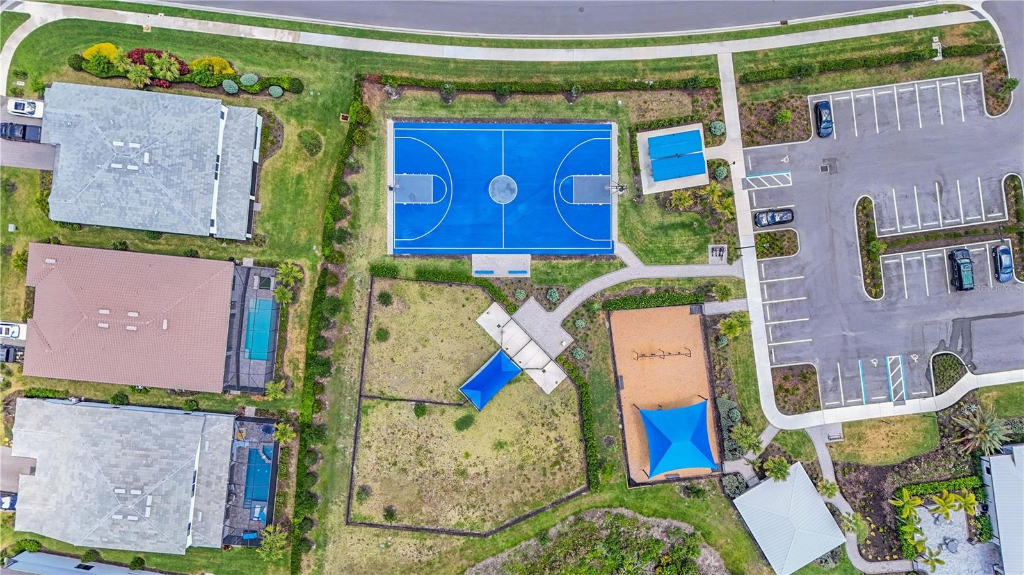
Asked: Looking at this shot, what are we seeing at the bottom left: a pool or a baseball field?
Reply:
pool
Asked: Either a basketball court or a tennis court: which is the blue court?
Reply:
basketball court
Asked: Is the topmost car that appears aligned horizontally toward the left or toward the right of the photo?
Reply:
left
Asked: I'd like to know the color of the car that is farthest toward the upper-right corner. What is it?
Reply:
blue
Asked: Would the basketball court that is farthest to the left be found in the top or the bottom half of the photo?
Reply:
top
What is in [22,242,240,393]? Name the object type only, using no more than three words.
house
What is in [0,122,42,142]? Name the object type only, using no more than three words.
vehicle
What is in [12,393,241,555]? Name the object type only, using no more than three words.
house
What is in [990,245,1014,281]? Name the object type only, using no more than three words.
car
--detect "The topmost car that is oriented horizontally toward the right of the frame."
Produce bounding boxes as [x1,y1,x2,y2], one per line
[753,208,794,227]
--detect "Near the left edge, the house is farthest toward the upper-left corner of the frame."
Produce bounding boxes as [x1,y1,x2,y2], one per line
[41,82,262,240]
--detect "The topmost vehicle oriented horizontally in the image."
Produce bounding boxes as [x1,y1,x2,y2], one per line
[2,98,44,119]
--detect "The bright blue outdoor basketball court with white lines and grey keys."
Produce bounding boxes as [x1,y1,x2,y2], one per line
[393,122,614,254]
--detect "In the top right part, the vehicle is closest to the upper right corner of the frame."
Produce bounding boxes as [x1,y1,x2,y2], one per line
[812,99,835,139]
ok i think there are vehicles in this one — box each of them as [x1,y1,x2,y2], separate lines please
[990,245,1014,281]
[0,492,17,511]
[0,346,25,363]
[0,122,42,142]
[0,322,27,340]
[948,250,975,291]
[753,208,794,227]
[2,98,44,119]
[812,99,835,139]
